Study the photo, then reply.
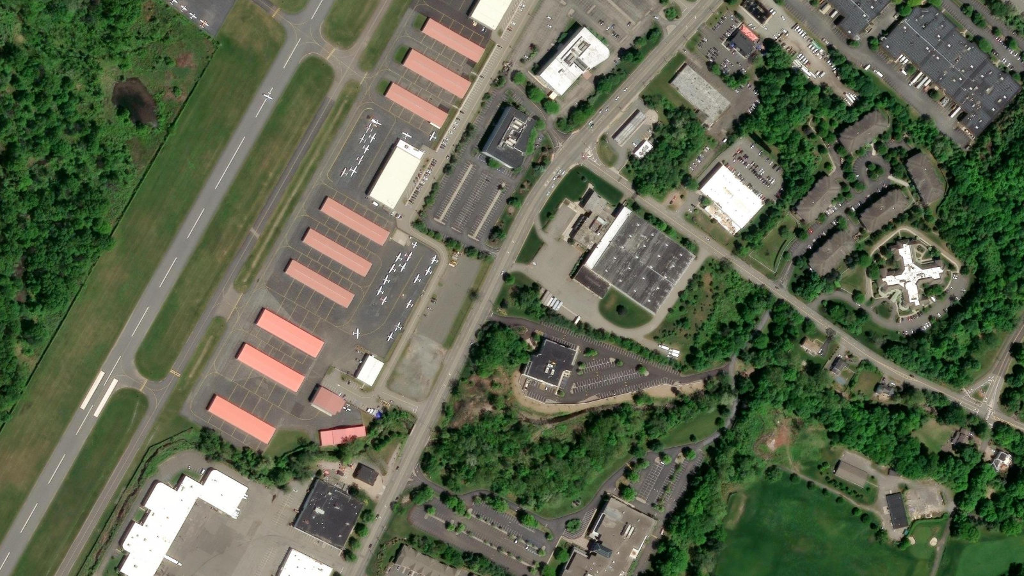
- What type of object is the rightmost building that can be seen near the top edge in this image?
warehouse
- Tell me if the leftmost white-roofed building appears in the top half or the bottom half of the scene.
bottom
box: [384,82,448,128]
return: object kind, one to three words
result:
hangar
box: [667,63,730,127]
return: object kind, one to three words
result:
building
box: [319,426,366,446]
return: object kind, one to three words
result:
shed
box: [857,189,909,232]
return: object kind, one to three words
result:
house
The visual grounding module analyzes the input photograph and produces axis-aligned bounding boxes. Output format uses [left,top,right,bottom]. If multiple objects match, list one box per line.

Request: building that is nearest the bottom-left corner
[116,469,248,576]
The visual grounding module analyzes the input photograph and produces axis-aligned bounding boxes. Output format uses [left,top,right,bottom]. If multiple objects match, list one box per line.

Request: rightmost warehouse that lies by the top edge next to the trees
[877,5,1022,138]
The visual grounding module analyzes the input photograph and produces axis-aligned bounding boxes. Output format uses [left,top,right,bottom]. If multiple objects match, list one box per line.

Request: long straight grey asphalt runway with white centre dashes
[0,0,333,576]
